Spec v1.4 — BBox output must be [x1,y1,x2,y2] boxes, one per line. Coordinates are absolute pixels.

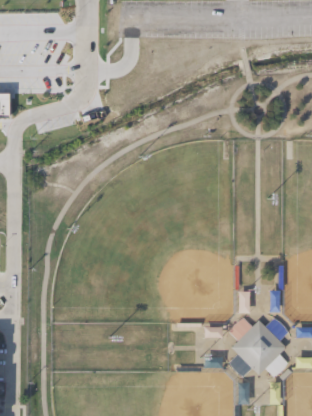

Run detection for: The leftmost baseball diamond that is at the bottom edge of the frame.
[52,372,235,416]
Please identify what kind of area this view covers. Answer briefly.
sports ground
